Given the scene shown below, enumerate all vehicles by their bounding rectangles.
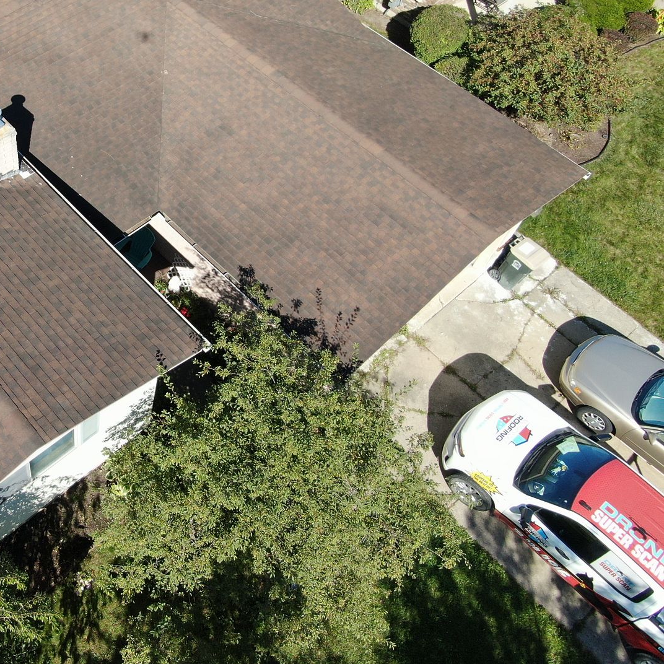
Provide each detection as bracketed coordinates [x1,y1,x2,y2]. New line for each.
[548,330,664,473]
[442,389,664,664]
